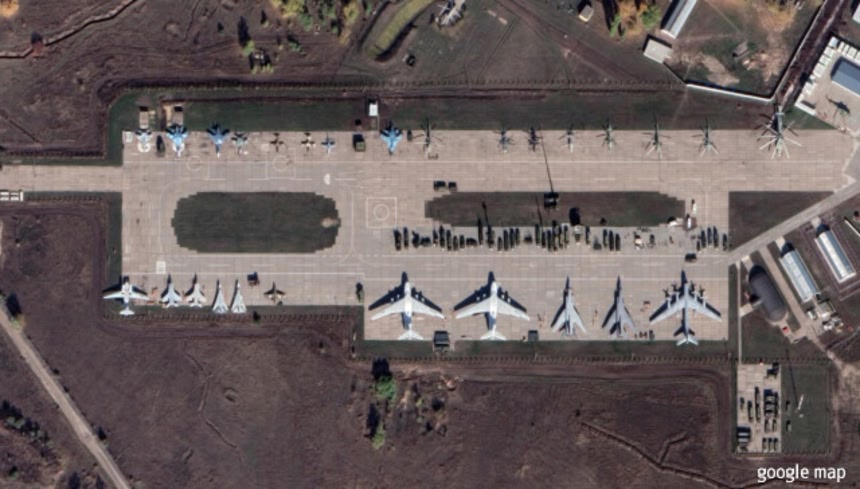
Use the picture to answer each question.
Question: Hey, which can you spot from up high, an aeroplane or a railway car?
aeroplane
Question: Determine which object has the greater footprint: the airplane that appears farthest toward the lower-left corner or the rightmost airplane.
the rightmost airplane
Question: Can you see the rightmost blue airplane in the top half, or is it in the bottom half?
top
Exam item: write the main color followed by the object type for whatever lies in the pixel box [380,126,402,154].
blue airplane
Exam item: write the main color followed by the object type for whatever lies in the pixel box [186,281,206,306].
white airplane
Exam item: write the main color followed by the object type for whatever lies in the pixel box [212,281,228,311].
white airplane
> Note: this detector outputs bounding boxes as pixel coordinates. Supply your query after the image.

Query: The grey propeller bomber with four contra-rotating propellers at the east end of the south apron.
[650,281,722,342]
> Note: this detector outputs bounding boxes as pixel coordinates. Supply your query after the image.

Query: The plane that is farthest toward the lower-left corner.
[103,276,149,311]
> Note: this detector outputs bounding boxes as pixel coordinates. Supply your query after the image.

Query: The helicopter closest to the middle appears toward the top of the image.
[414,123,441,154]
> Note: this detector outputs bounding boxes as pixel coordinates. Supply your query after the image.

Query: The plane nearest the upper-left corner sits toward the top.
[135,129,152,151]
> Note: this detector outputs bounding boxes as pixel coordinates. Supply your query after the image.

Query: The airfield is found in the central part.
[0,130,854,341]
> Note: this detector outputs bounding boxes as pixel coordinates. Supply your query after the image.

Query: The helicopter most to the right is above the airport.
[826,100,852,122]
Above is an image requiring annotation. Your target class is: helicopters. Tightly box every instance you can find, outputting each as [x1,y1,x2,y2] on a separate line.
[758,109,802,155]
[523,127,545,148]
[598,122,622,149]
[826,100,852,122]
[493,126,517,150]
[560,124,583,150]
[695,121,723,151]
[414,123,441,154]
[642,124,672,152]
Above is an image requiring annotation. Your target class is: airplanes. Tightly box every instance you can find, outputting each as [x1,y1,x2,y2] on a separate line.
[553,283,587,339]
[322,135,336,153]
[602,283,636,339]
[186,281,206,306]
[380,126,402,154]
[265,282,286,302]
[457,278,530,339]
[207,126,229,157]
[301,134,316,151]
[135,129,152,151]
[212,281,228,311]
[103,276,149,311]
[162,282,181,306]
[233,131,249,153]
[650,281,722,342]
[166,125,189,154]
[372,279,445,340]
[231,281,245,312]
[270,135,285,151]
